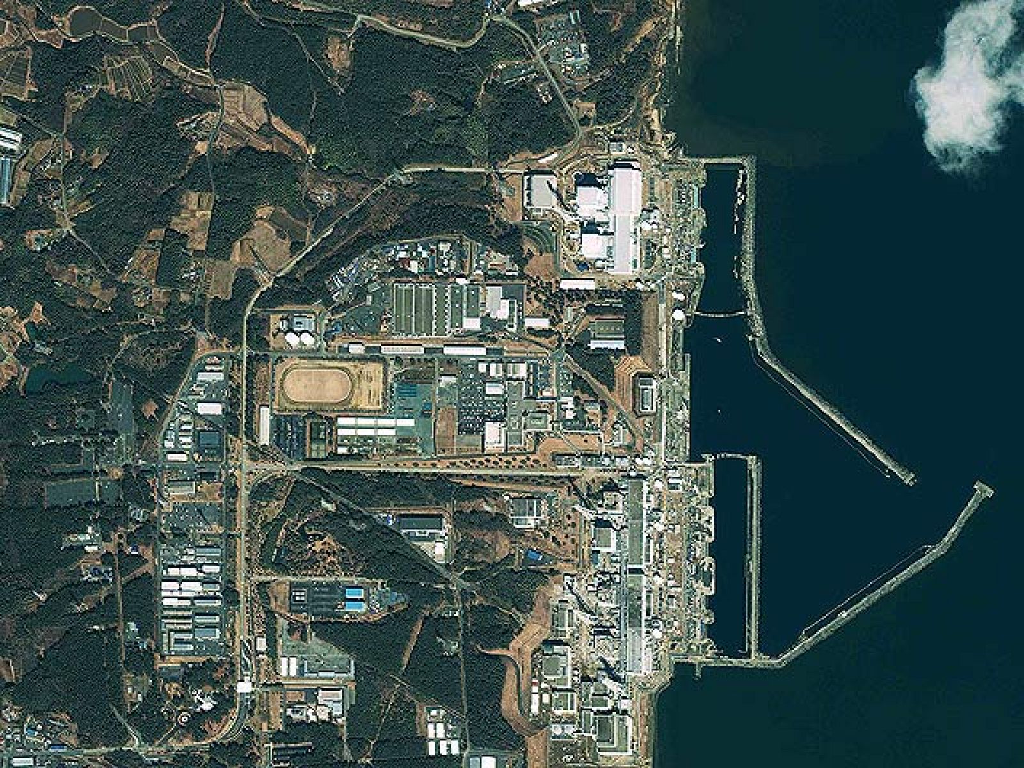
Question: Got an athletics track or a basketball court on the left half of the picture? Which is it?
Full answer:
Visible on the left half of the picture is an athletics track.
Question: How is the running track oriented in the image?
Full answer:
The running track is laid out from side to side.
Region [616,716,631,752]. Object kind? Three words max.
building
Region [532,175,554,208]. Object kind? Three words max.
building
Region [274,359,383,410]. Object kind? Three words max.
running track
